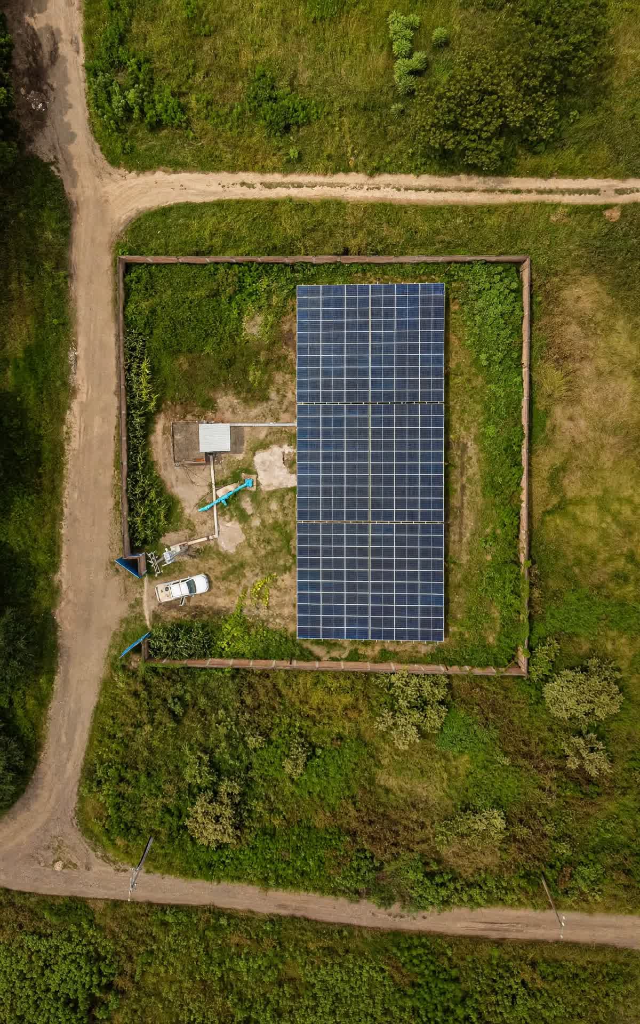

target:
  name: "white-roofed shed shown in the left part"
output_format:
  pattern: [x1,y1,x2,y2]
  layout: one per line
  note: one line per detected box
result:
[199,424,231,458]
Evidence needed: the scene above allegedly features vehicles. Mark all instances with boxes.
[154,575,211,606]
